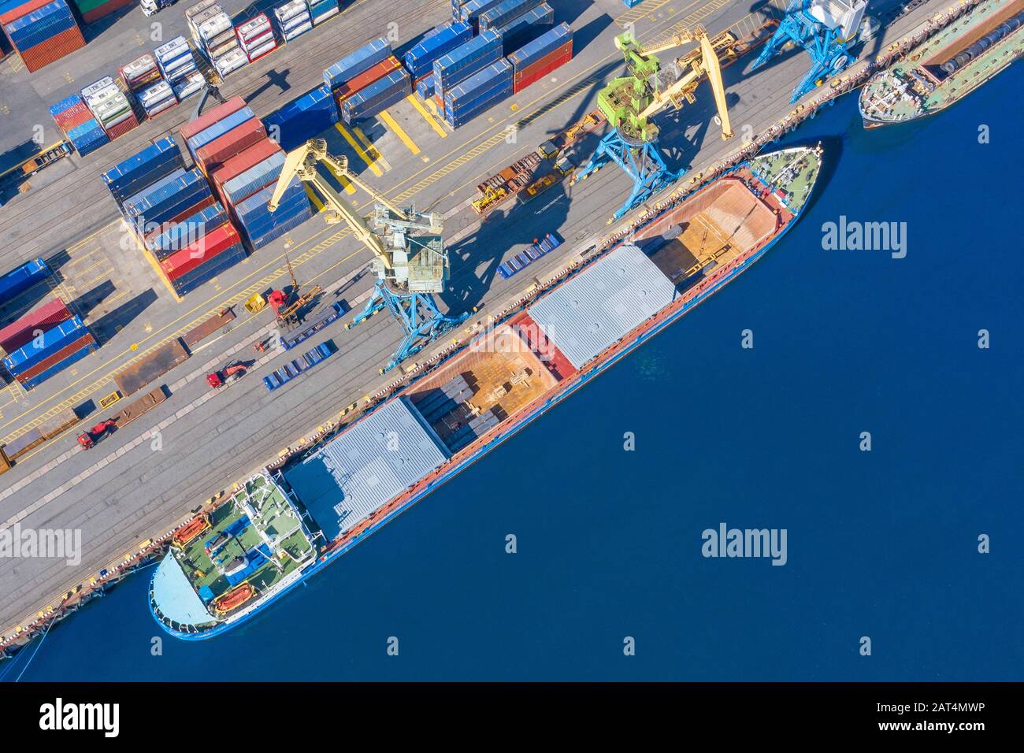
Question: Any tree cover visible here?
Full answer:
No, there is no tree cover in the image.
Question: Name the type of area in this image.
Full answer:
This image shows a port.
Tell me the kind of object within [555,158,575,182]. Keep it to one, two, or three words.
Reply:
vehicle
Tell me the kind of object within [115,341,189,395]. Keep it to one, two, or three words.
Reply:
trailer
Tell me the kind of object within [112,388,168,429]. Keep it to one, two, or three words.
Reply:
trailer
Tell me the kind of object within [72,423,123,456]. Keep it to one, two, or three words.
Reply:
truck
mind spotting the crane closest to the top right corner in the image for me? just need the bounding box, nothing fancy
[746,0,868,106]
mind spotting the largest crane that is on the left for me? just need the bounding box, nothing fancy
[271,131,479,376]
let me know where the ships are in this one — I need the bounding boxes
[859,0,1024,131]
[148,144,823,642]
